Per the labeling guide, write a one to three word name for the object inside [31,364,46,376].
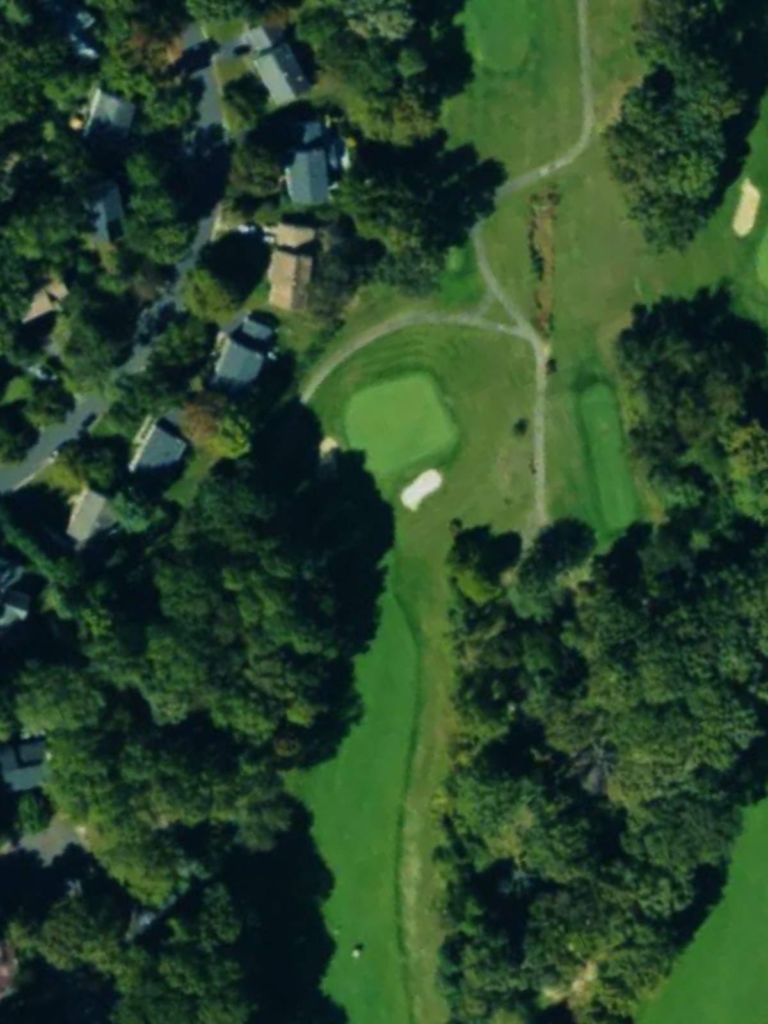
vehicle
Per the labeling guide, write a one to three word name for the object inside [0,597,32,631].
house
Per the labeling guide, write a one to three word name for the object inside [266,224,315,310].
house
